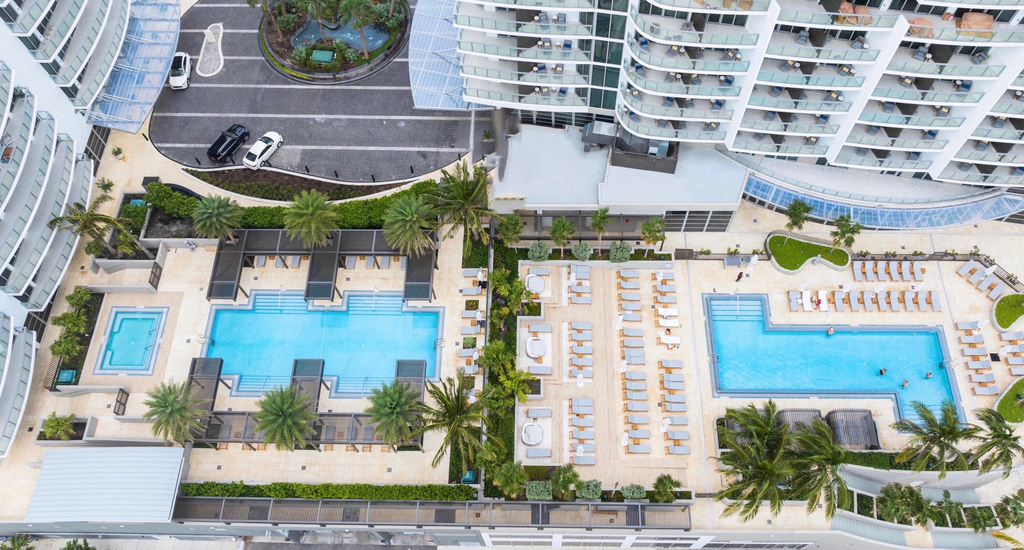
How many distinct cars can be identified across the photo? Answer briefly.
3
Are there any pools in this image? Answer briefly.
Yes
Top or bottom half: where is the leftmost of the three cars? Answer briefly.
top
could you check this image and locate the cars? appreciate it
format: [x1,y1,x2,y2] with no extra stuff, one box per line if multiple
[167,52,194,91]
[207,126,246,162]
[238,132,281,170]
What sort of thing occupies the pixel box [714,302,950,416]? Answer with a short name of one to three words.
swimming pool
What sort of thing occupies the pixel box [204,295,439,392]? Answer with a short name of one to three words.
swimming pool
